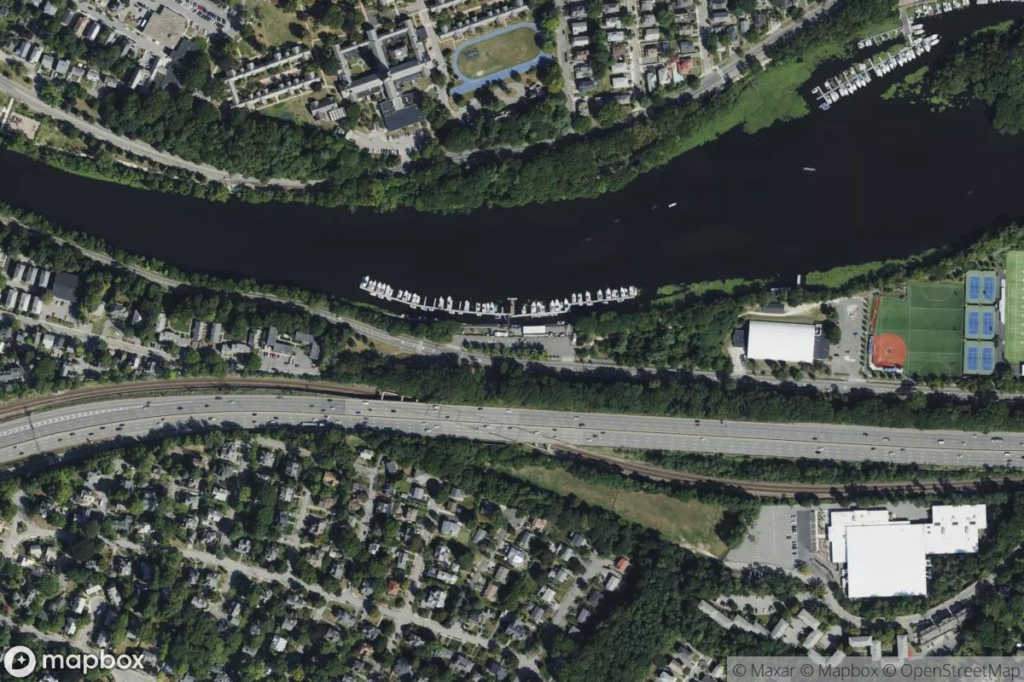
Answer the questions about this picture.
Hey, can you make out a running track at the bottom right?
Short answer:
No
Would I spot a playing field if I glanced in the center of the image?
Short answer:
No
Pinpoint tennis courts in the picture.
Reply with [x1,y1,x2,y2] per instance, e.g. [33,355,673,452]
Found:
[981,306,997,339]
[981,270,997,303]
[965,270,981,303]
[965,306,981,339]
[979,341,995,375]
[964,341,979,375]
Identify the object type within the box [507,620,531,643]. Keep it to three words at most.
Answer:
house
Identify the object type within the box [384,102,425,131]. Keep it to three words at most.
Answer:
building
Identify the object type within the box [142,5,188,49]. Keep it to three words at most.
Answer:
building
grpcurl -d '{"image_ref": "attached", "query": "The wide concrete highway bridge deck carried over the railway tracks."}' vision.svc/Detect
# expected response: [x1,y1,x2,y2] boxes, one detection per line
[367,400,572,445]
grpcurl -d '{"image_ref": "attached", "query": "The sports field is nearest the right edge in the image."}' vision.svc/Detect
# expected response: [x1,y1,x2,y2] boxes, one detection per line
[1004,250,1024,363]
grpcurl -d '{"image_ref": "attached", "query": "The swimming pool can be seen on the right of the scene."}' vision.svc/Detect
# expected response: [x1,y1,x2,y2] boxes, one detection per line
[672,62,685,84]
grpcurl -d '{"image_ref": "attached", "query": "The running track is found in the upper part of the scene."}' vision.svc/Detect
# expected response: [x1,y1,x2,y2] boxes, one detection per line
[451,20,549,93]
